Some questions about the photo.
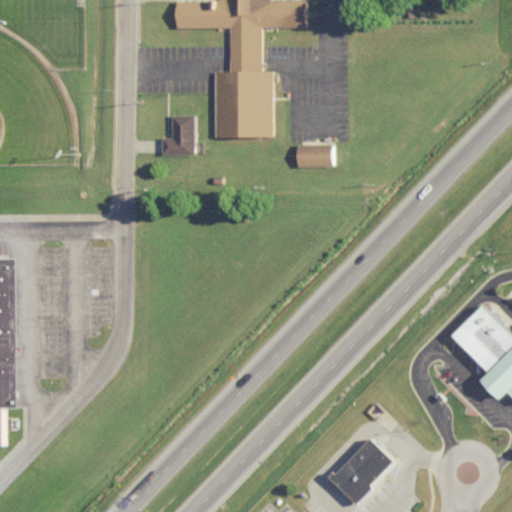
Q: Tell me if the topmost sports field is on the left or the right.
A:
left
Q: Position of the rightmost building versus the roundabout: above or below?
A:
above it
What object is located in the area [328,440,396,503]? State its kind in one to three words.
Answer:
building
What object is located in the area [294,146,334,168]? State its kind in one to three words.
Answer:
shed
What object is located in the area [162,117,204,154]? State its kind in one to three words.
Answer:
house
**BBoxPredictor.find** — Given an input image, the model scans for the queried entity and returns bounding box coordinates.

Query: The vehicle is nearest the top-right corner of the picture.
[418,184,434,200]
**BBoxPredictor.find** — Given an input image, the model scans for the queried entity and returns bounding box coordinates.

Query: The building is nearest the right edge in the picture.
[451,304,512,401]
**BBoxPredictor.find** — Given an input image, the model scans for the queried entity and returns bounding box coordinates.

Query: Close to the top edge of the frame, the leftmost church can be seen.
[172,0,308,138]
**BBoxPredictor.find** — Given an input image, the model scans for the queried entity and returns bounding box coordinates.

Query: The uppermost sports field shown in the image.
[0,0,86,72]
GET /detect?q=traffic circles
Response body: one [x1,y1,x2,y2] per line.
[434,441,500,512]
